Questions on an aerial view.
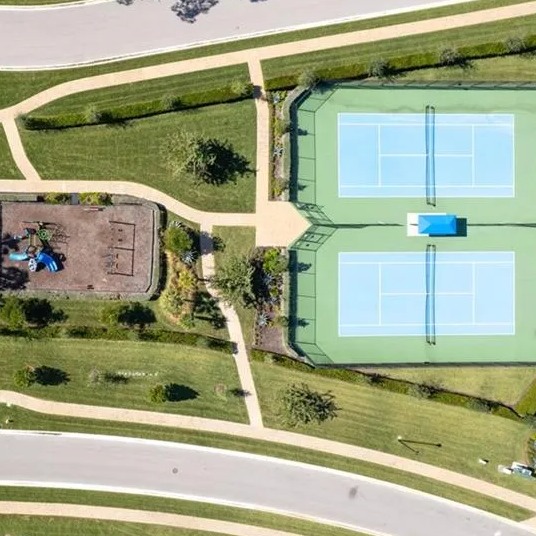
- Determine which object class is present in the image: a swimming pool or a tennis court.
tennis court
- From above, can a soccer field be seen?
No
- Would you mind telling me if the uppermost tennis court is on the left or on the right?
right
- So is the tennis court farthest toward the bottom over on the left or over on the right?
right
